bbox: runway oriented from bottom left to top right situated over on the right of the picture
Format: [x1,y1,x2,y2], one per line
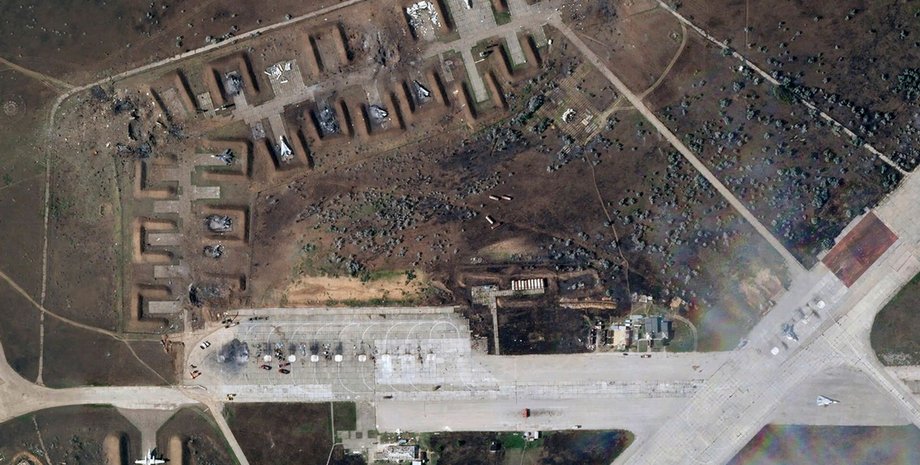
[612,164,920,465]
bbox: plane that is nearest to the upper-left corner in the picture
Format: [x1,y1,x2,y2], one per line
[212,150,234,164]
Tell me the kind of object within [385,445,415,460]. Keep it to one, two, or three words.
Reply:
building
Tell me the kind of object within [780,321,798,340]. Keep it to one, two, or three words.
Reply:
airplane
